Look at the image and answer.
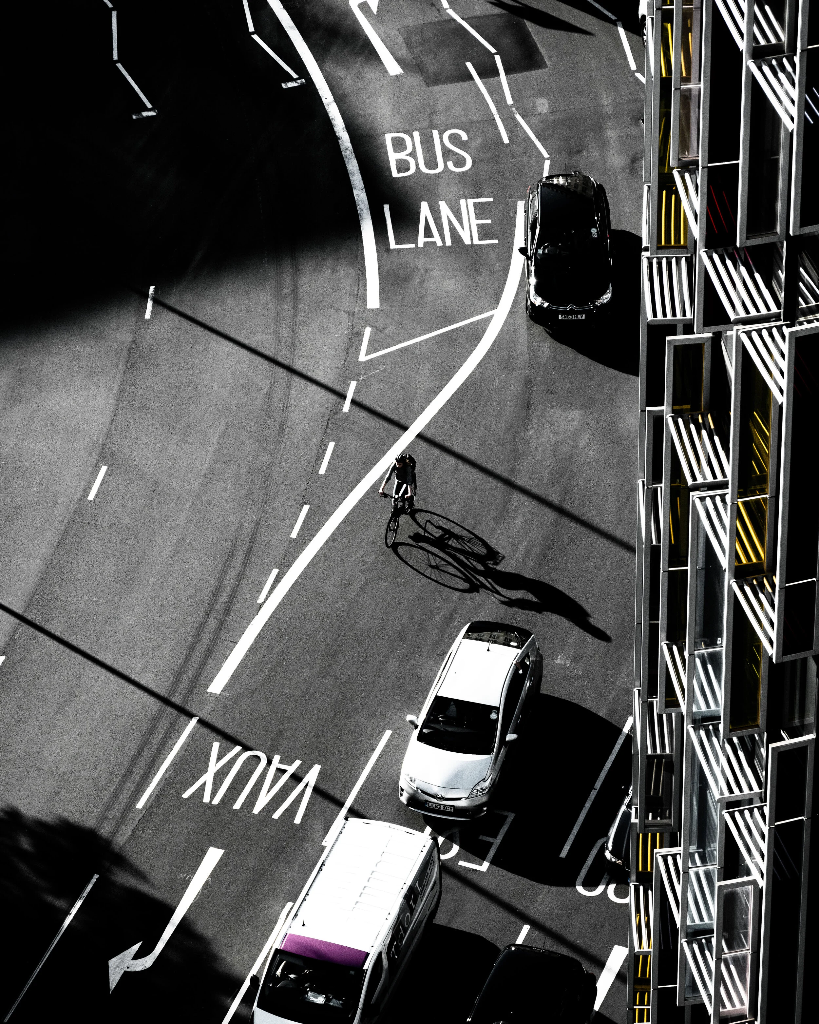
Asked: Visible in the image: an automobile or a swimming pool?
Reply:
automobile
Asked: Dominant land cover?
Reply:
paved ground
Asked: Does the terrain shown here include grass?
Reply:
No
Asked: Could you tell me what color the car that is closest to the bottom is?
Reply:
black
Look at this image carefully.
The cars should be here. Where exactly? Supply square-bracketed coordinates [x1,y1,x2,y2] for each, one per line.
[462,932,599,1024]
[397,621,543,819]
[624,0,646,42]
[515,158,624,329]
[603,764,633,886]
